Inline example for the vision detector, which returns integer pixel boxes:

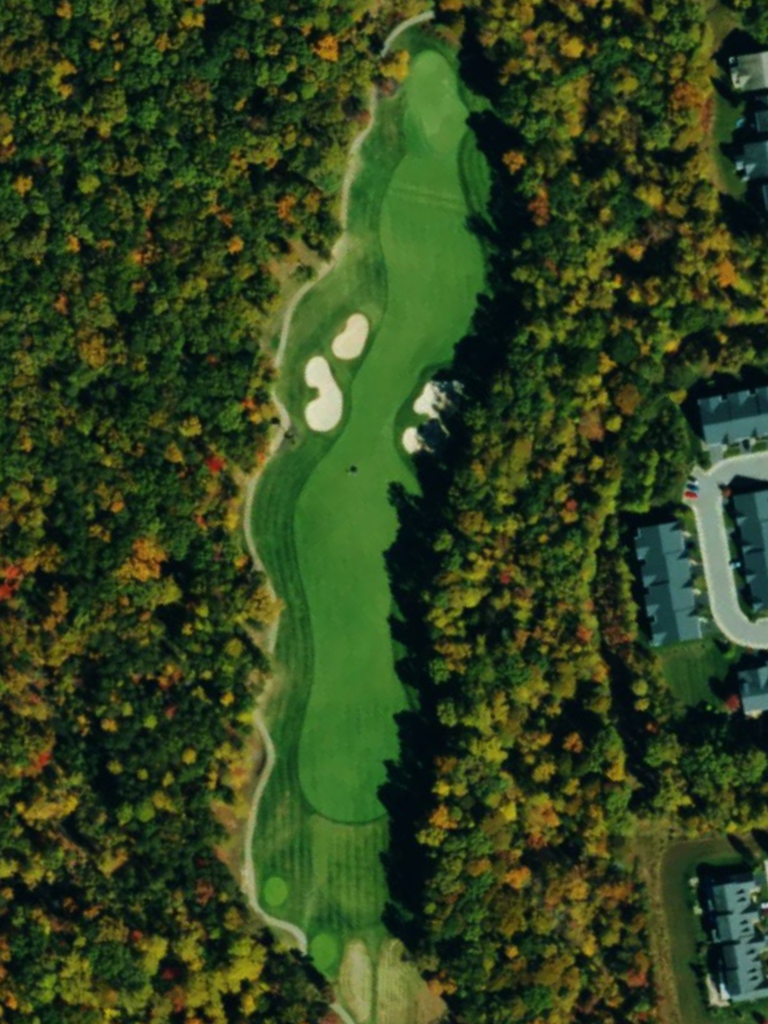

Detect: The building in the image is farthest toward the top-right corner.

[730,53,768,93]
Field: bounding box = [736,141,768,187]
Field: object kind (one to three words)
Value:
house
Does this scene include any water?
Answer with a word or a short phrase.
No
